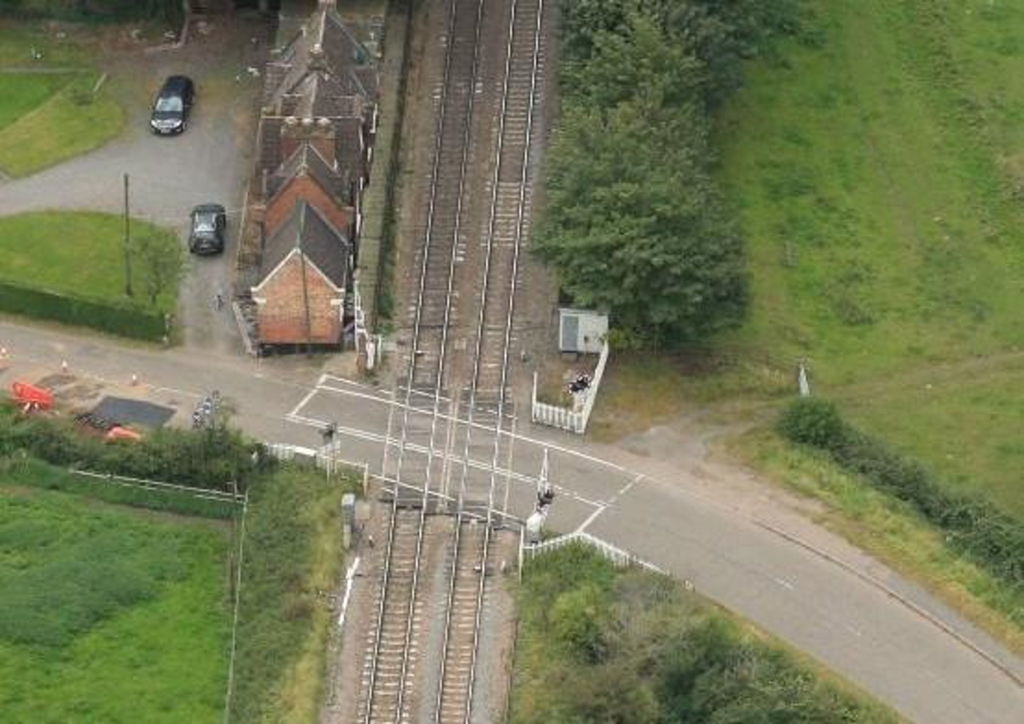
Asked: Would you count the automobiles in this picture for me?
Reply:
two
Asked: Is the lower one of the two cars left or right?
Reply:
left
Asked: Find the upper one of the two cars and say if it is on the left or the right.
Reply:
left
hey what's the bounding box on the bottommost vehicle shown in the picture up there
[189,202,228,250]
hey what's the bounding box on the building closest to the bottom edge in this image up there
[557,302,609,358]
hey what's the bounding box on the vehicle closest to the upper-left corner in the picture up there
[153,75,197,132]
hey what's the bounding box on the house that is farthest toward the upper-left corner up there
[246,0,391,348]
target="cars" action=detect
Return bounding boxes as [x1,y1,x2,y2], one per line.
[153,75,197,132]
[189,202,228,250]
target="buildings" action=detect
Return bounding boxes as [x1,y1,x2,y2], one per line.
[246,0,391,348]
[557,302,609,358]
